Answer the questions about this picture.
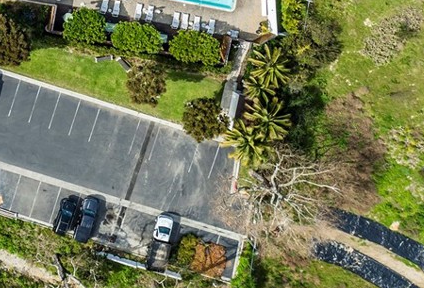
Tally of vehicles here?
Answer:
3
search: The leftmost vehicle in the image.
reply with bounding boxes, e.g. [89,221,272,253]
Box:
[54,195,80,239]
